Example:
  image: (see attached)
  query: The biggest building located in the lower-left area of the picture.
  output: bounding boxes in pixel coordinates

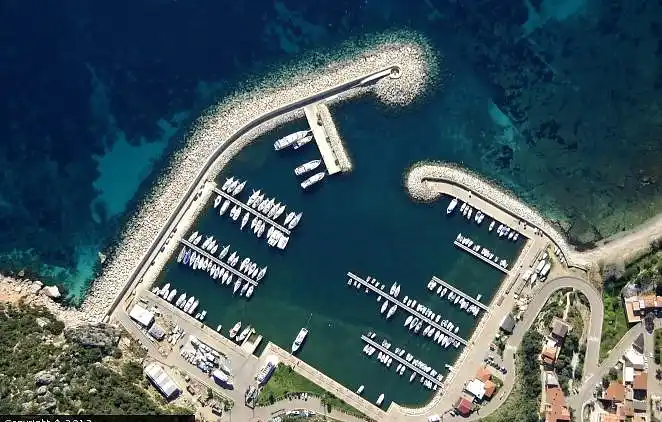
[145,363,180,397]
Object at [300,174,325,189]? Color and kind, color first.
white boat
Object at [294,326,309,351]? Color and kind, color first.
white boat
